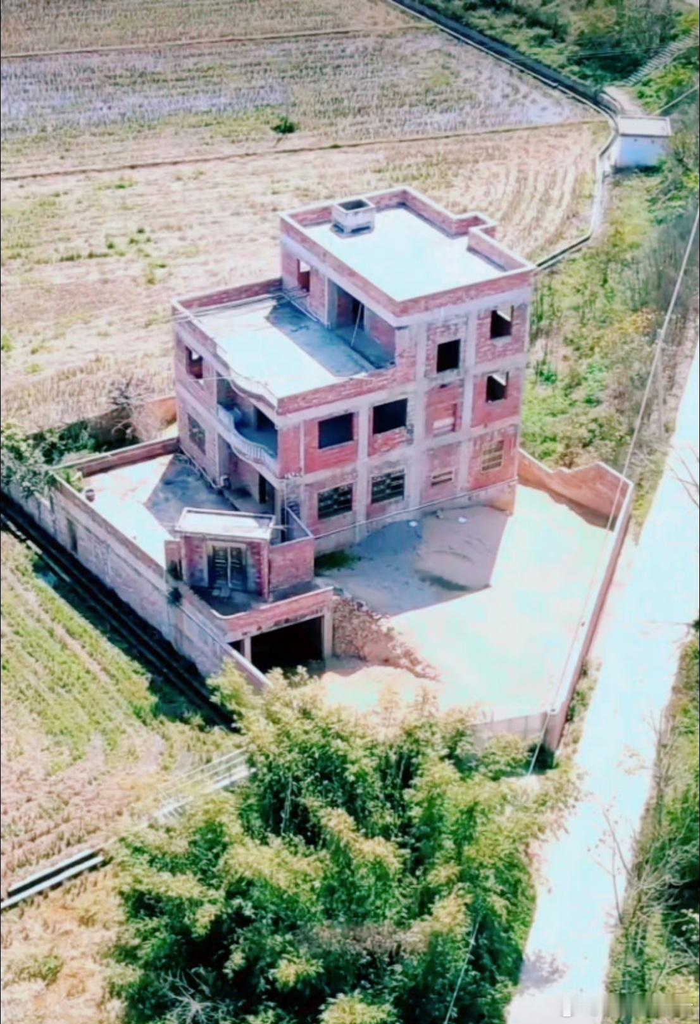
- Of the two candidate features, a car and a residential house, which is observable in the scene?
residential house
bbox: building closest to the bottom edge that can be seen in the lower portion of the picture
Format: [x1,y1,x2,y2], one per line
[179,578,334,674]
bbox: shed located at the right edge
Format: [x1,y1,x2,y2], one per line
[610,114,670,176]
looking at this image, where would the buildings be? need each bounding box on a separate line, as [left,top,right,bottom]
[179,578,334,674]
[610,114,670,176]
[173,189,534,564]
